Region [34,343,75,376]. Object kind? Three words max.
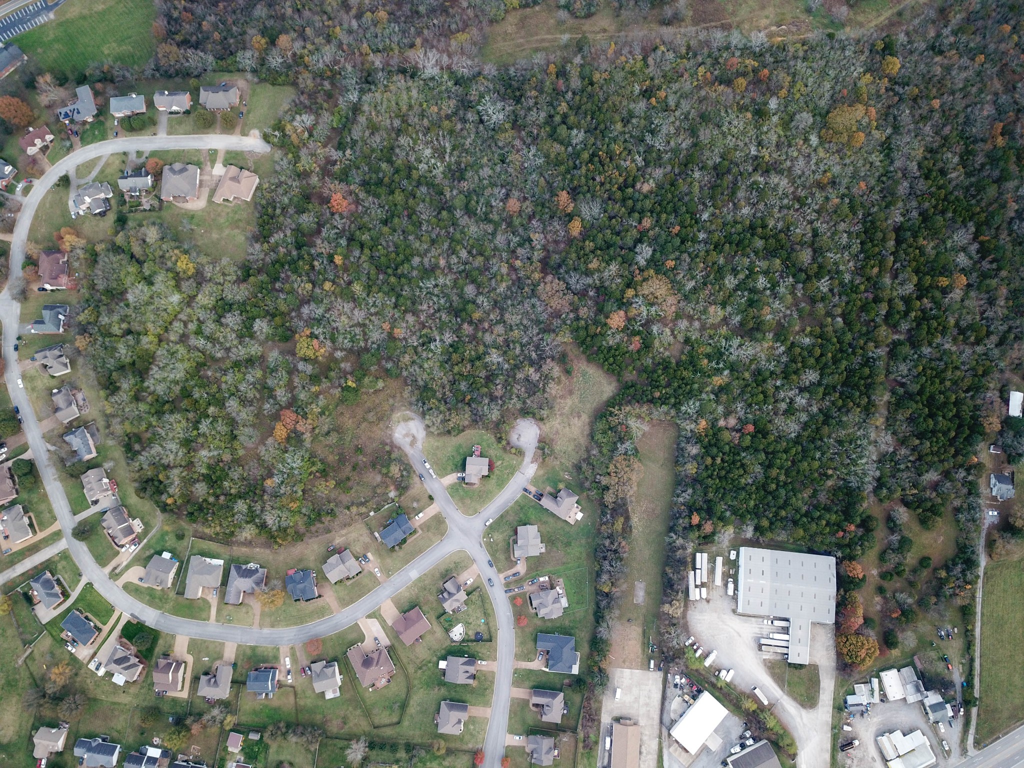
house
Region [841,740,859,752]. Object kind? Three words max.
vehicle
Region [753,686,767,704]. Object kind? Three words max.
vehicle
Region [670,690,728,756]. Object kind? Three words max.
building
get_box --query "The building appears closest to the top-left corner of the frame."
[0,41,28,79]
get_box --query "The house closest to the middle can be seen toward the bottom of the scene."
[465,445,488,483]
